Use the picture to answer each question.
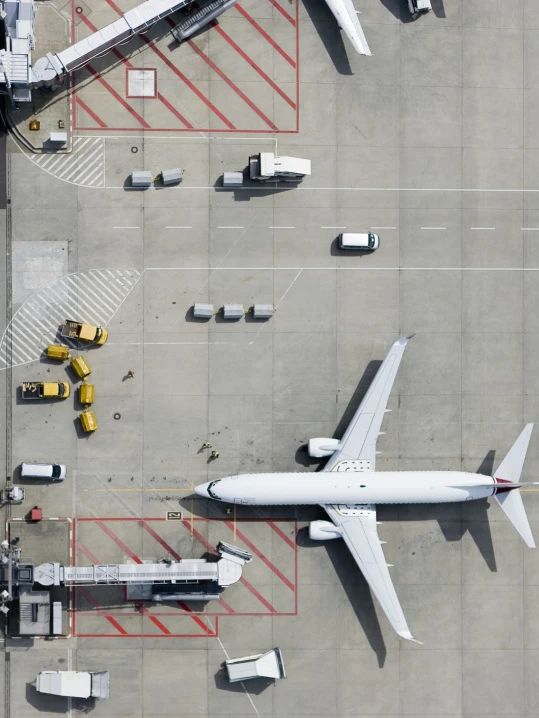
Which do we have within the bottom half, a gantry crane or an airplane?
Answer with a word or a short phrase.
airplane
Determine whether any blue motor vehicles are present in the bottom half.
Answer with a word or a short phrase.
No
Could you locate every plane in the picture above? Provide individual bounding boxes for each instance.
[328,0,370,55]
[194,333,539,641]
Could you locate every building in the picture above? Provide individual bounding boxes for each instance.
[20,583,53,634]
[0,0,39,106]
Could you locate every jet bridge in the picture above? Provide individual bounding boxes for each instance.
[32,0,243,86]
[32,543,255,600]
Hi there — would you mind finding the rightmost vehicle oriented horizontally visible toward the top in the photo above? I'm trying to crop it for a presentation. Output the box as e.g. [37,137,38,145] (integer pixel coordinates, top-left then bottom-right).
[336,231,380,251]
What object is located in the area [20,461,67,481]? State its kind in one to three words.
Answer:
vehicle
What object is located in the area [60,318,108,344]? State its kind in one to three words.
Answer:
truck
